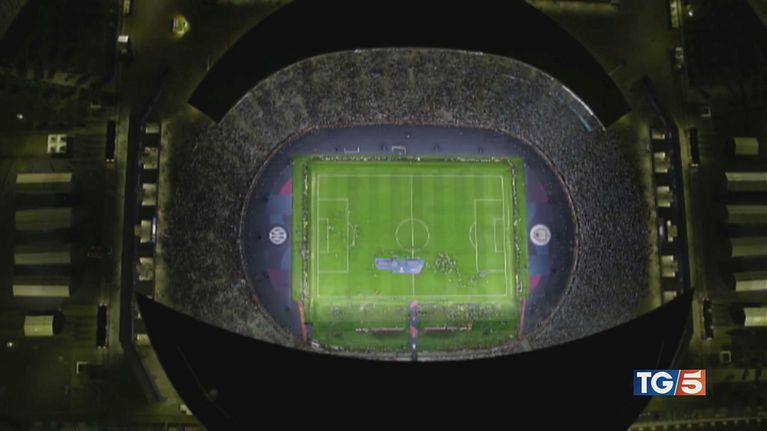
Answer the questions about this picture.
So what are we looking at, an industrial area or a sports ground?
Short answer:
sports ground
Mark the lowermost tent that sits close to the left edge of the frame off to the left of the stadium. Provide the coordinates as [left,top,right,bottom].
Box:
[21,315,60,336]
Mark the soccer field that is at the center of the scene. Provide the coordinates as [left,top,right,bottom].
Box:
[293,157,527,343]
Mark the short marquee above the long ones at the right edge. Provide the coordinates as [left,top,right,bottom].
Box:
[729,137,760,157]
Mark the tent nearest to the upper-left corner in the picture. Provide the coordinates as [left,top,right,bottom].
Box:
[13,173,79,193]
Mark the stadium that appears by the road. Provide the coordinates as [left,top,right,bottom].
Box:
[135,0,693,431]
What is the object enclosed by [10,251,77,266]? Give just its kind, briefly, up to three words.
tent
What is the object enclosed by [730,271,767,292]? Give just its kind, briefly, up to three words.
tent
